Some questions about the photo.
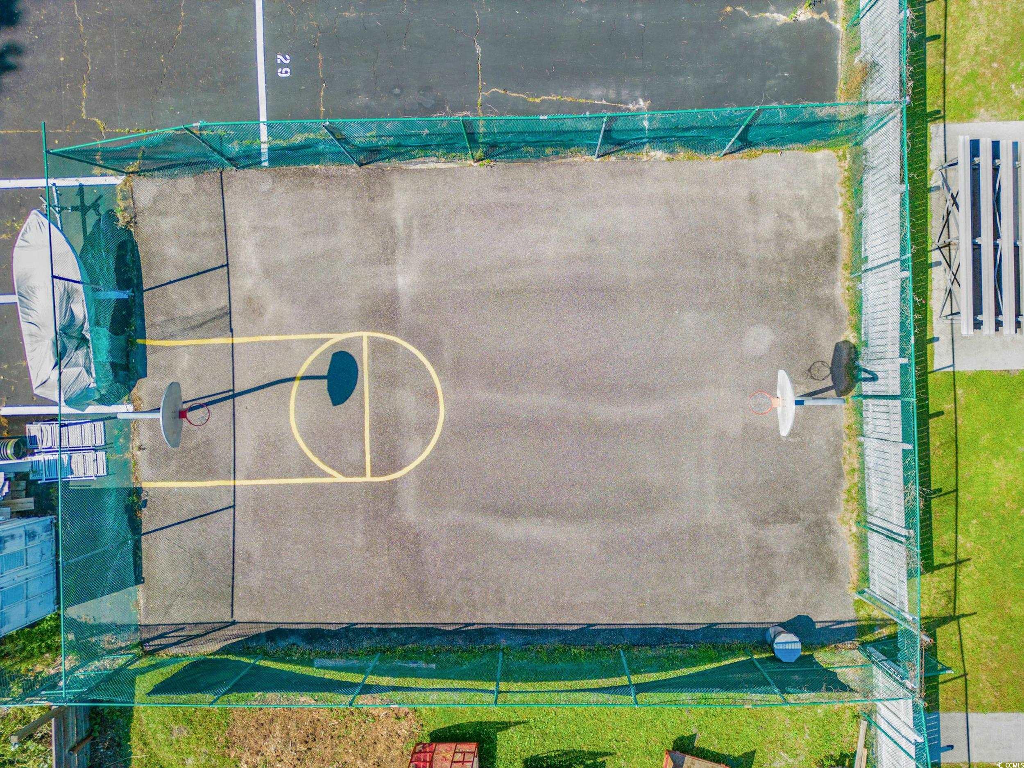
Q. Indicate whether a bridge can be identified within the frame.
No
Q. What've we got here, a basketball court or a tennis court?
basketball court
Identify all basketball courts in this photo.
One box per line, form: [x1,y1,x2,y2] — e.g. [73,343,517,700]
[133,151,857,655]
